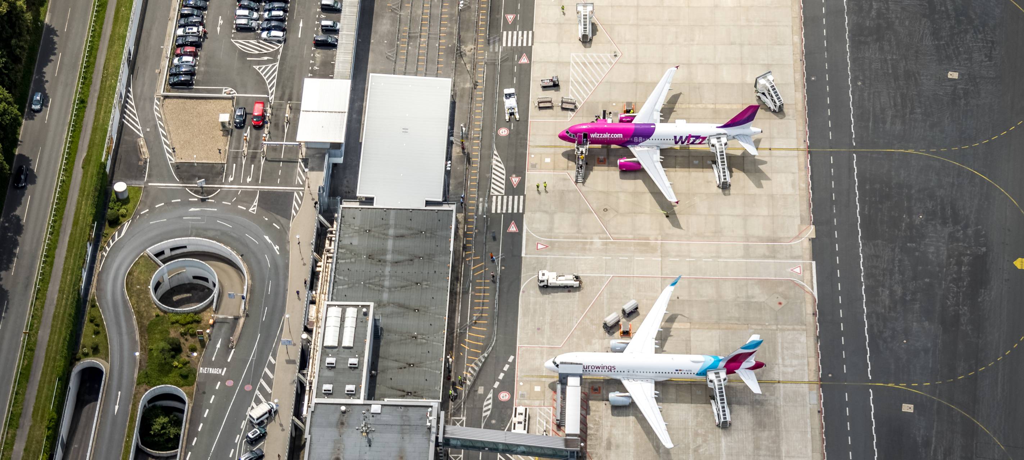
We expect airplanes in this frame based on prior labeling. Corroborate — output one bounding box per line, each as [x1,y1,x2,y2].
[545,273,766,448]
[559,61,763,202]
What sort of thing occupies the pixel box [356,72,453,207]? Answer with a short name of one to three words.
building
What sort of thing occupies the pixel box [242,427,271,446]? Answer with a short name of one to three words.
car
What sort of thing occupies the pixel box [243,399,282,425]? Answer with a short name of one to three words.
vehicle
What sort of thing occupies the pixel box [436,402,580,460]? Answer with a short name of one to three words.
jet bridge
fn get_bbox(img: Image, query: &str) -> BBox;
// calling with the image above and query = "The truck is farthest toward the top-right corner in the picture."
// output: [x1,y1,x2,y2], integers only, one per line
[751,67,786,114]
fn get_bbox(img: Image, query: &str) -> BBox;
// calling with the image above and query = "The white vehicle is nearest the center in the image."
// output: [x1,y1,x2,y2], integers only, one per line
[535,269,587,294]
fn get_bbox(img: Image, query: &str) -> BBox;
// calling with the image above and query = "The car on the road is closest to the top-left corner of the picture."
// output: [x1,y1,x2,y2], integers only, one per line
[30,91,45,112]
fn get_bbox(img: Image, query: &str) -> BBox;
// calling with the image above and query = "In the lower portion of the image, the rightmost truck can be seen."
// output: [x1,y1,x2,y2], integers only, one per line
[705,366,734,427]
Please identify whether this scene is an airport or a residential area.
airport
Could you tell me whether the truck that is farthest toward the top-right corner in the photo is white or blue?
white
